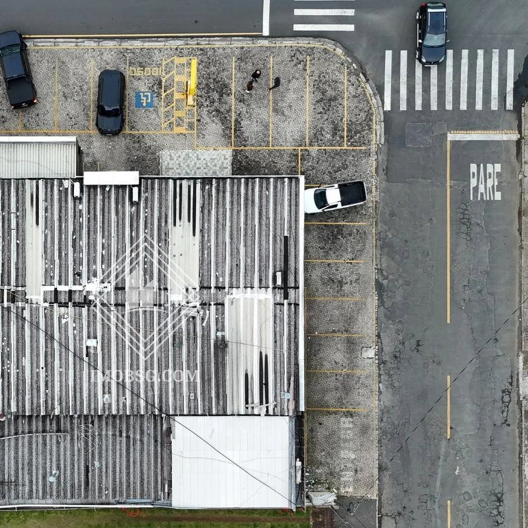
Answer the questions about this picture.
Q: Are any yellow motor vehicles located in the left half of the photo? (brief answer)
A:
No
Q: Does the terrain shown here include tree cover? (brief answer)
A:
No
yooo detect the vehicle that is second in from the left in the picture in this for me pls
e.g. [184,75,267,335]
[95,69,127,137]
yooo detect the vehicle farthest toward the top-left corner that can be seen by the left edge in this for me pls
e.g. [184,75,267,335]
[0,32,36,111]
